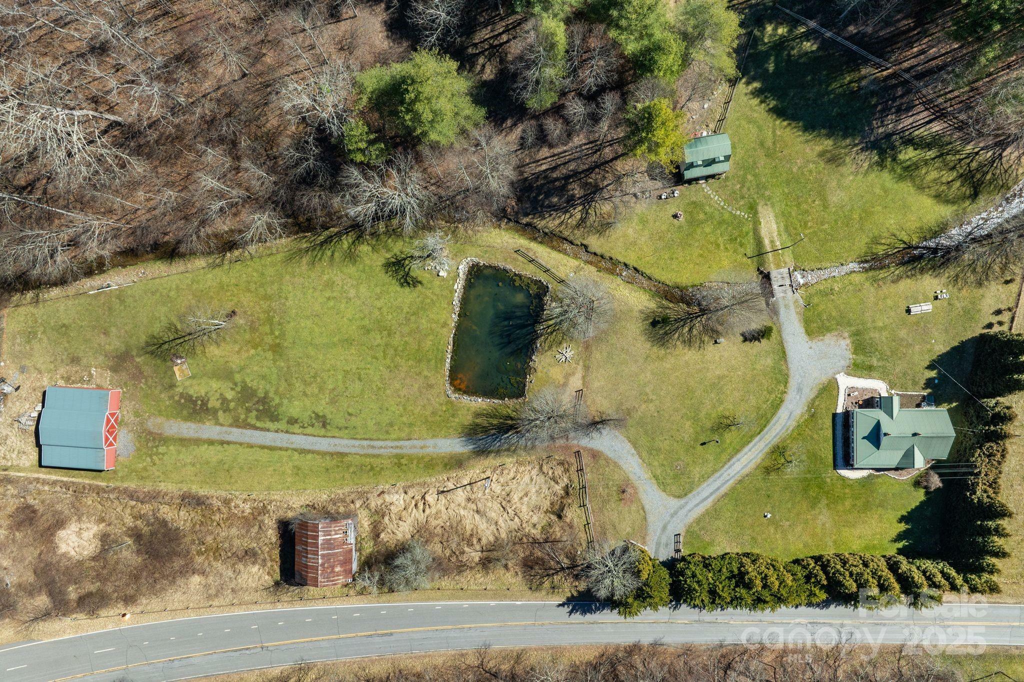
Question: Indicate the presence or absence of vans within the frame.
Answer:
No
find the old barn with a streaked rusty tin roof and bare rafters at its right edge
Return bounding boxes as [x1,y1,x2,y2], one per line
[295,517,358,588]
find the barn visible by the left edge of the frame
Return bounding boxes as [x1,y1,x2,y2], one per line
[39,386,122,470]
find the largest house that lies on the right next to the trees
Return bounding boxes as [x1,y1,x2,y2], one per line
[846,396,956,469]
